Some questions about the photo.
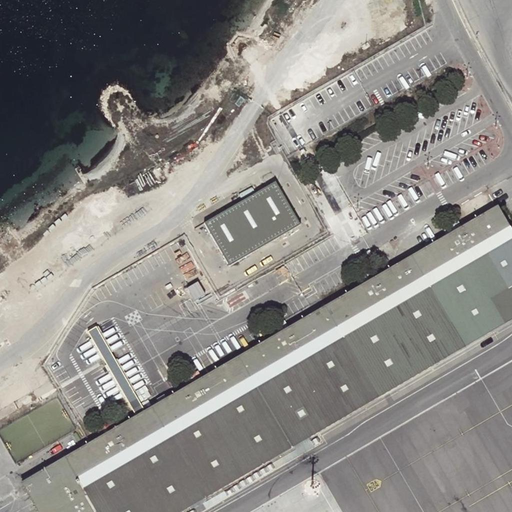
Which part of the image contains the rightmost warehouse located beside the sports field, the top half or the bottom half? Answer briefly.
bottom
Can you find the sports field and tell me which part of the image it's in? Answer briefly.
bottom left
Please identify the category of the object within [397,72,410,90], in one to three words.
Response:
vehicle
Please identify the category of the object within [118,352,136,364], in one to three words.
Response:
vehicle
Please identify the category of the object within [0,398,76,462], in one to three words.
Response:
sports field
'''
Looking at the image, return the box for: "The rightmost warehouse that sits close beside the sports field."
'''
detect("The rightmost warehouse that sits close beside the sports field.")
[66,204,512,512]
